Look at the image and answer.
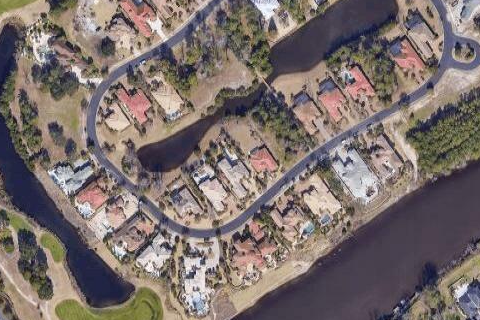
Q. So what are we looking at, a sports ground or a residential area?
residential area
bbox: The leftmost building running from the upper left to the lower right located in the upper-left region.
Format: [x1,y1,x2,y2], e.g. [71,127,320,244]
[34,32,101,85]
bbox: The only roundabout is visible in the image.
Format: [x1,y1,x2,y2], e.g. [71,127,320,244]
[439,34,480,73]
